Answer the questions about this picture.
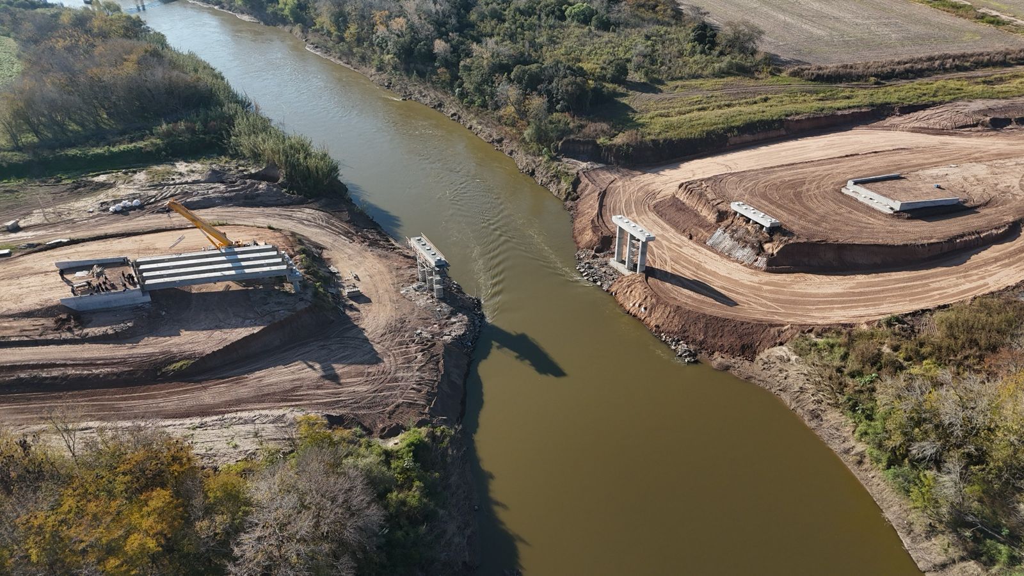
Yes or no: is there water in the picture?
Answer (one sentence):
Yes, the picture does contain water.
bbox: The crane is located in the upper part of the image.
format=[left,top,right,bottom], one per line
[168,202,260,251]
